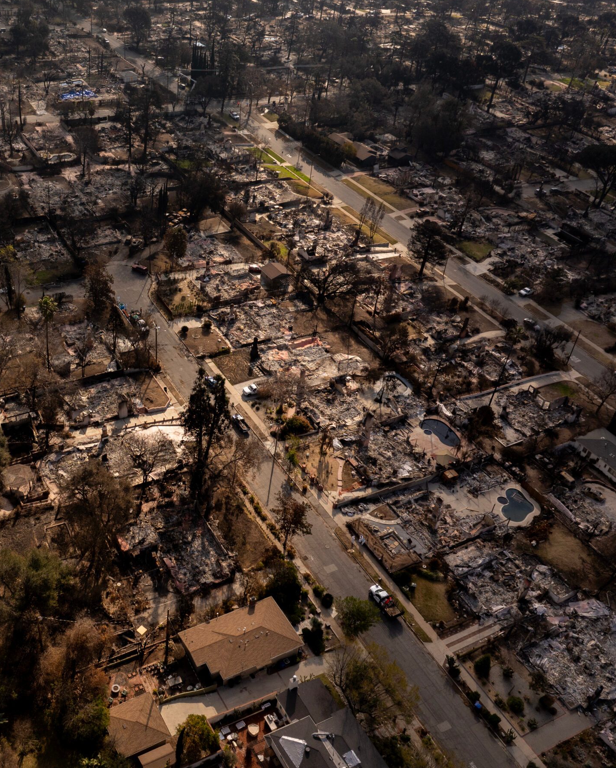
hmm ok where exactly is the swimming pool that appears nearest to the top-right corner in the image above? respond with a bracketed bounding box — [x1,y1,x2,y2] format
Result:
[554,229,583,246]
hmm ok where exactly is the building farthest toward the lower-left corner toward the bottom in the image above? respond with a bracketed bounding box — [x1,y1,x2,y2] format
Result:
[109,693,177,768]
